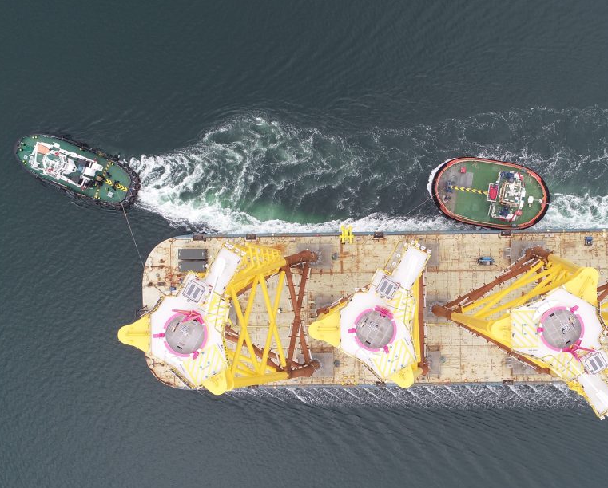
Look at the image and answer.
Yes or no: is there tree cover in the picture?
No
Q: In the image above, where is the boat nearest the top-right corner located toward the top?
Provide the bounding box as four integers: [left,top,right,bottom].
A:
[431,156,550,229]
